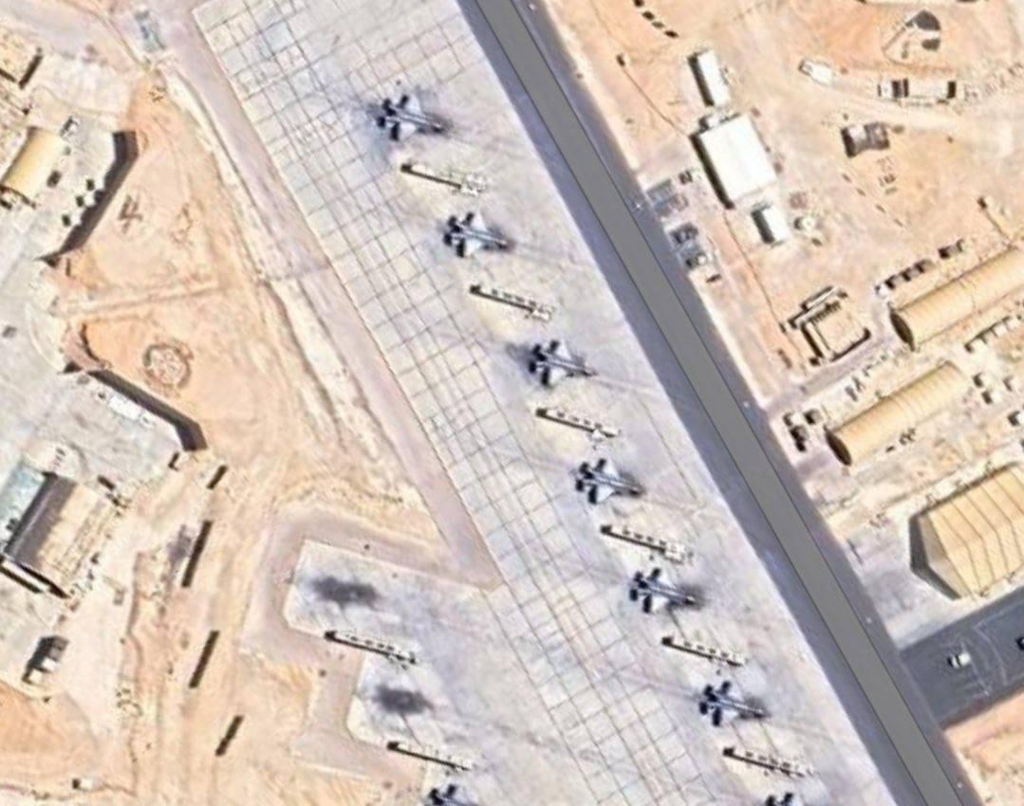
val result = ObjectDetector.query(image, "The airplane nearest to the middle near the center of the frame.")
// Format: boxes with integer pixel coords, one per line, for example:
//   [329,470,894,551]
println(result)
[537,341,598,383]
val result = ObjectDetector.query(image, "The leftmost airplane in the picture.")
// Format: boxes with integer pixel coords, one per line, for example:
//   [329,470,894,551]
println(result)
[386,96,449,138]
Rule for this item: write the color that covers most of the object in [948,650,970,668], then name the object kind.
white vehicle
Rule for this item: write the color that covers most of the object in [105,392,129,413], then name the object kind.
white truck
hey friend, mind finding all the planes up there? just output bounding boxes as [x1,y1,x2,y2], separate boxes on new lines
[440,788,477,806]
[709,684,769,725]
[386,96,449,138]
[639,571,700,612]
[585,461,646,503]
[537,341,598,383]
[452,215,514,257]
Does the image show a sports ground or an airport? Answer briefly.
airport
